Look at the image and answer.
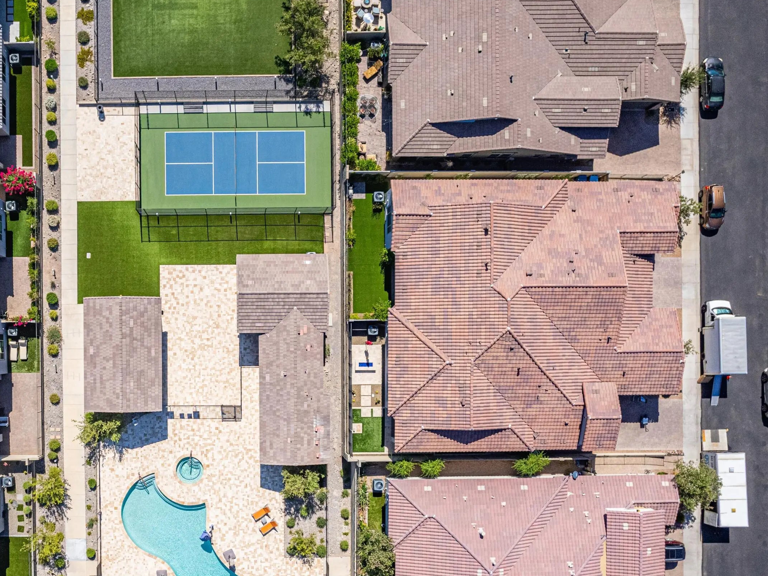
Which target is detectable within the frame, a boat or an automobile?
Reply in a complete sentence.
Of the two, only an automobile appears.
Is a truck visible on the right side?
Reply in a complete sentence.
Yes, looking on the right side, one can make out a truck.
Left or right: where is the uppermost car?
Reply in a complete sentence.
The uppermost car is on the right side of the image.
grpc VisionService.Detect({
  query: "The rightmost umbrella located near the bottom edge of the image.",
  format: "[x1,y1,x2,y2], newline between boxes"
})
[224,549,236,567]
